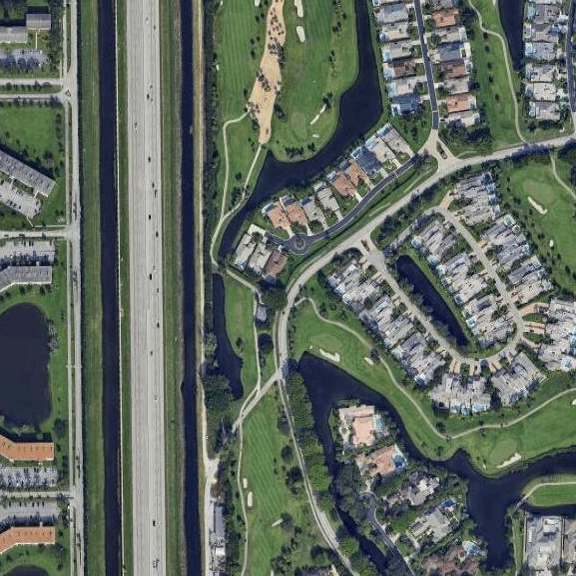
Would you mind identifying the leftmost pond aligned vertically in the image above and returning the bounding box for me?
[0,301,53,430]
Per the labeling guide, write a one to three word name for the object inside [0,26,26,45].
building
